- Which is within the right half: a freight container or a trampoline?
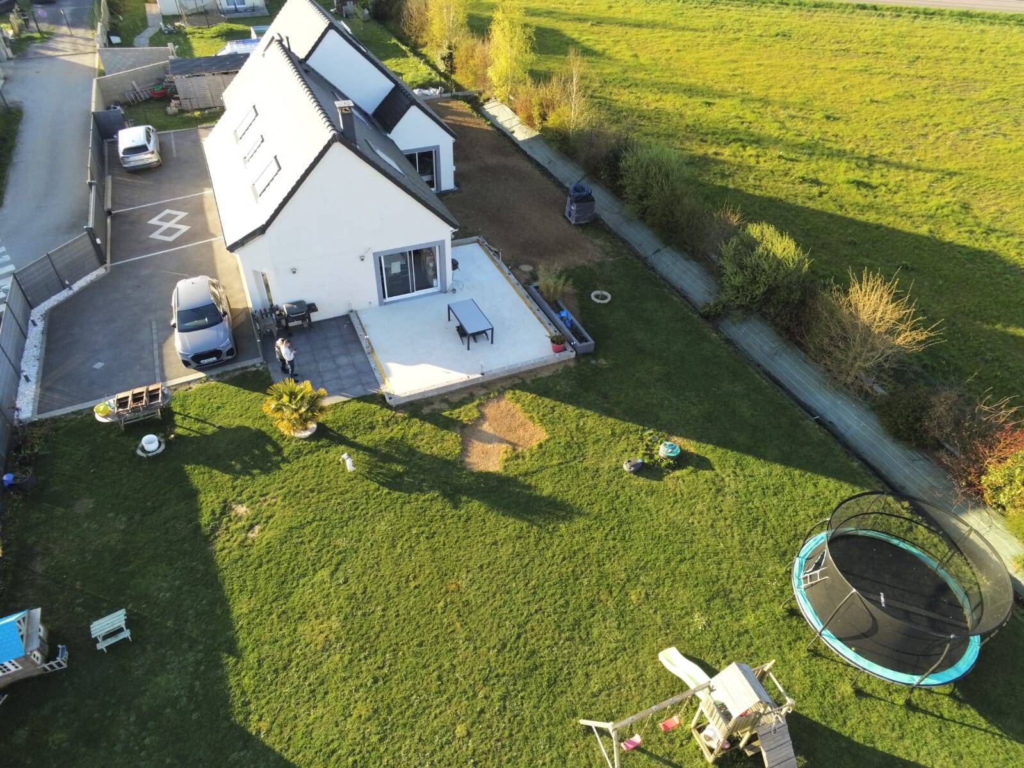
trampoline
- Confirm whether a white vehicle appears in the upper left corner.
Yes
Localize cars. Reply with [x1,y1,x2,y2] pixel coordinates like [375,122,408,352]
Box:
[115,129,163,171]
[173,277,241,370]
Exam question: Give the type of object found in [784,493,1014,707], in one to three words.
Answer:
trampoline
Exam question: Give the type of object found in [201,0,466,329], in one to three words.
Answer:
house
